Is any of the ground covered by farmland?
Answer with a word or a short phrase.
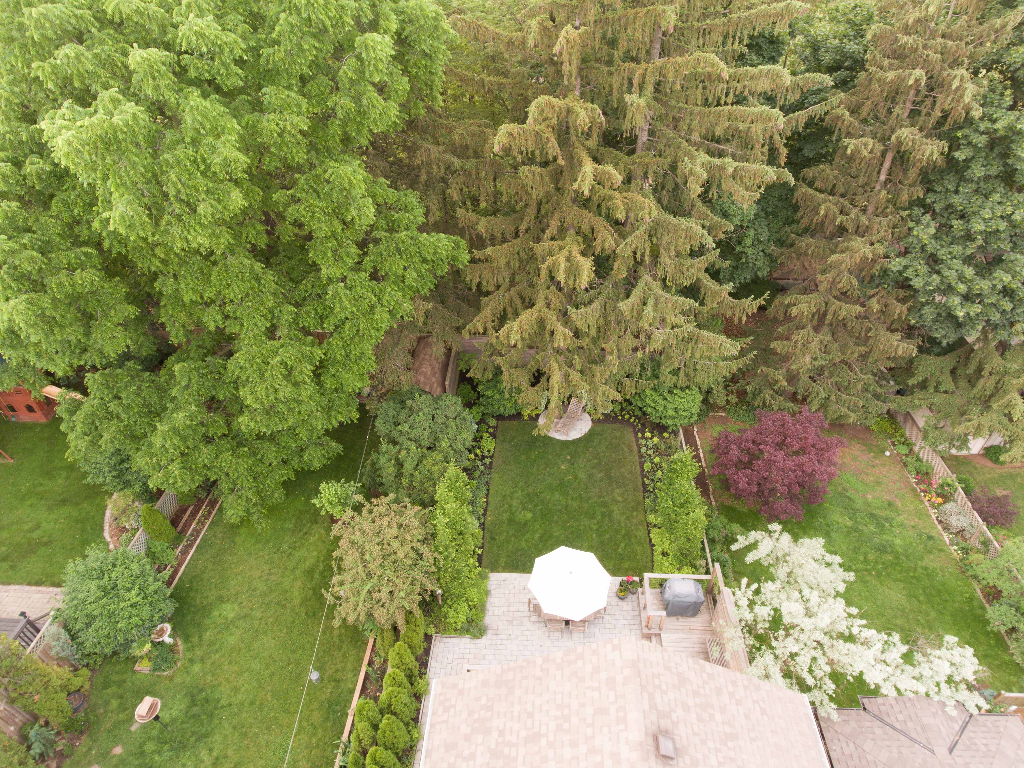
No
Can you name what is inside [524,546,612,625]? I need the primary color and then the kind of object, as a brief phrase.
white umbrella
